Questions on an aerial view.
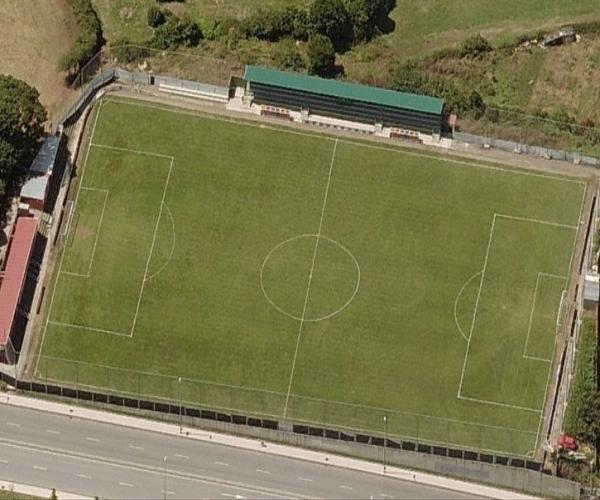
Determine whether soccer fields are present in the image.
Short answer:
Yes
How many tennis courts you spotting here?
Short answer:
0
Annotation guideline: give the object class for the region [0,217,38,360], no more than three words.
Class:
building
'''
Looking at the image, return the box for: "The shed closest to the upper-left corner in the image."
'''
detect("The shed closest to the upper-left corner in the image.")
[29,137,61,185]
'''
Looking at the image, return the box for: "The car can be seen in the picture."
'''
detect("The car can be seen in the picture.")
[558,435,577,448]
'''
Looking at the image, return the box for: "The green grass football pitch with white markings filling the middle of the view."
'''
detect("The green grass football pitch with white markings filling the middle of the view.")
[29,94,589,460]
